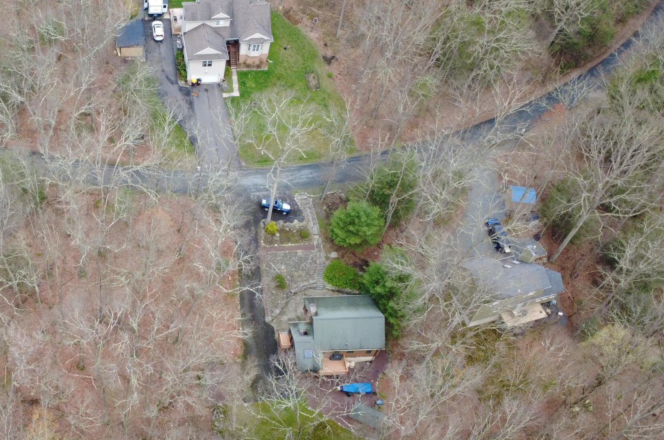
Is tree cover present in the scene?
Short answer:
Yes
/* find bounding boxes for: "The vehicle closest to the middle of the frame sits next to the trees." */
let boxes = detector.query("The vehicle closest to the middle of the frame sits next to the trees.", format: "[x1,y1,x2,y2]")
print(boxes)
[260,196,293,215]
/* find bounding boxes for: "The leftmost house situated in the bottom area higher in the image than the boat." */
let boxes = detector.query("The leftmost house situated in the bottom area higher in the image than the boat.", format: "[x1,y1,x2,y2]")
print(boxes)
[278,295,385,379]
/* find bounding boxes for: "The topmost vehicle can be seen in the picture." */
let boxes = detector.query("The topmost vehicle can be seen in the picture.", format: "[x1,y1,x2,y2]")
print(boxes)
[143,0,168,15]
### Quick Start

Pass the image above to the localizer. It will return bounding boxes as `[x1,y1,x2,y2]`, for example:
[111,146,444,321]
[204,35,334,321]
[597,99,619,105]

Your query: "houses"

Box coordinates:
[278,295,385,379]
[453,252,565,332]
[169,0,275,82]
